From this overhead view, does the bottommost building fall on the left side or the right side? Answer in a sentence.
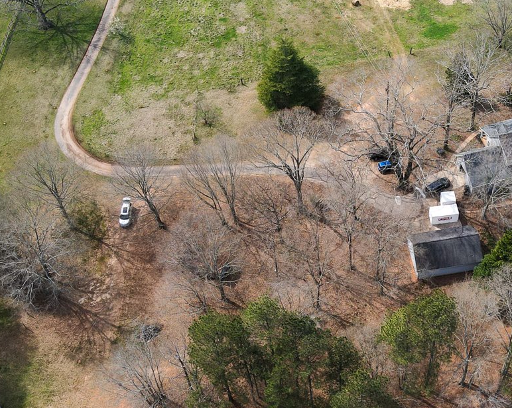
The bottommost building sits on the right side.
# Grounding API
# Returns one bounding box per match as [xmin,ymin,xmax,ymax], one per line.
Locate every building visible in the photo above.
[454,120,512,195]
[409,229,481,278]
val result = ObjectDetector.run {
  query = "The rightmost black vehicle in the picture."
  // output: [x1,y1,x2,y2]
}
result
[425,177,453,195]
